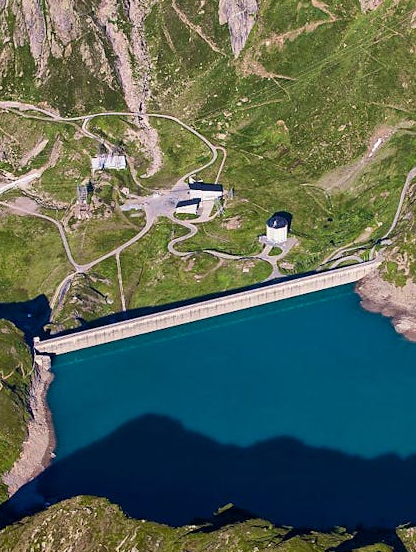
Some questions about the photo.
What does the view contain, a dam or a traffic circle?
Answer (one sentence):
The one in the frame is a dam.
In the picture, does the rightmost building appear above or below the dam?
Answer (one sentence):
The rightmost building is found above the dam in the photo.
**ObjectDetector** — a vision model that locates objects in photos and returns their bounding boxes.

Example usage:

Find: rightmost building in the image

[265,212,287,243]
